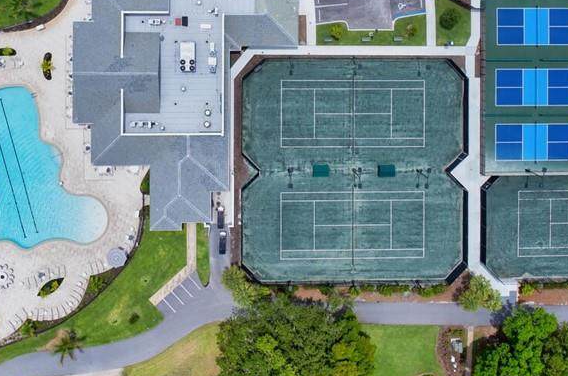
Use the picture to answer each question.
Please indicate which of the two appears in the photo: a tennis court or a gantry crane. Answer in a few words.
tennis court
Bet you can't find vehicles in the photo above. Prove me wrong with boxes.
[219,230,227,254]
[217,205,225,228]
